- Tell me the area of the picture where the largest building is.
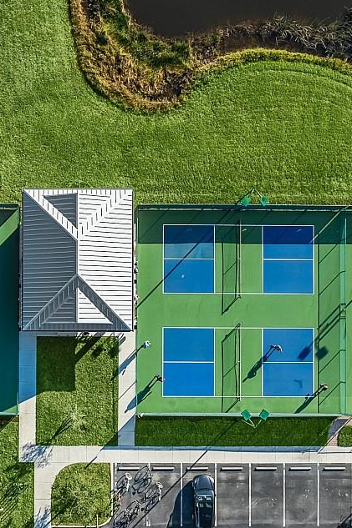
left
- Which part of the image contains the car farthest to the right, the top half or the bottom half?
bottom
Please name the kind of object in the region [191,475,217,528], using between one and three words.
car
